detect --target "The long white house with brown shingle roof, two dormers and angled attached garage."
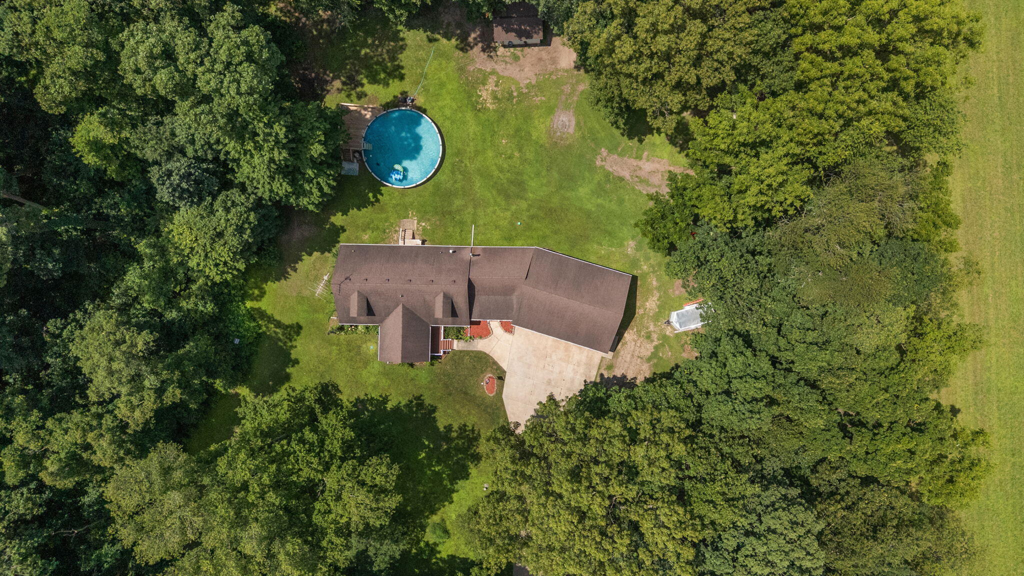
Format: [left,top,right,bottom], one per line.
[331,244,632,364]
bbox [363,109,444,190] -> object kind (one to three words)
swimming pool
